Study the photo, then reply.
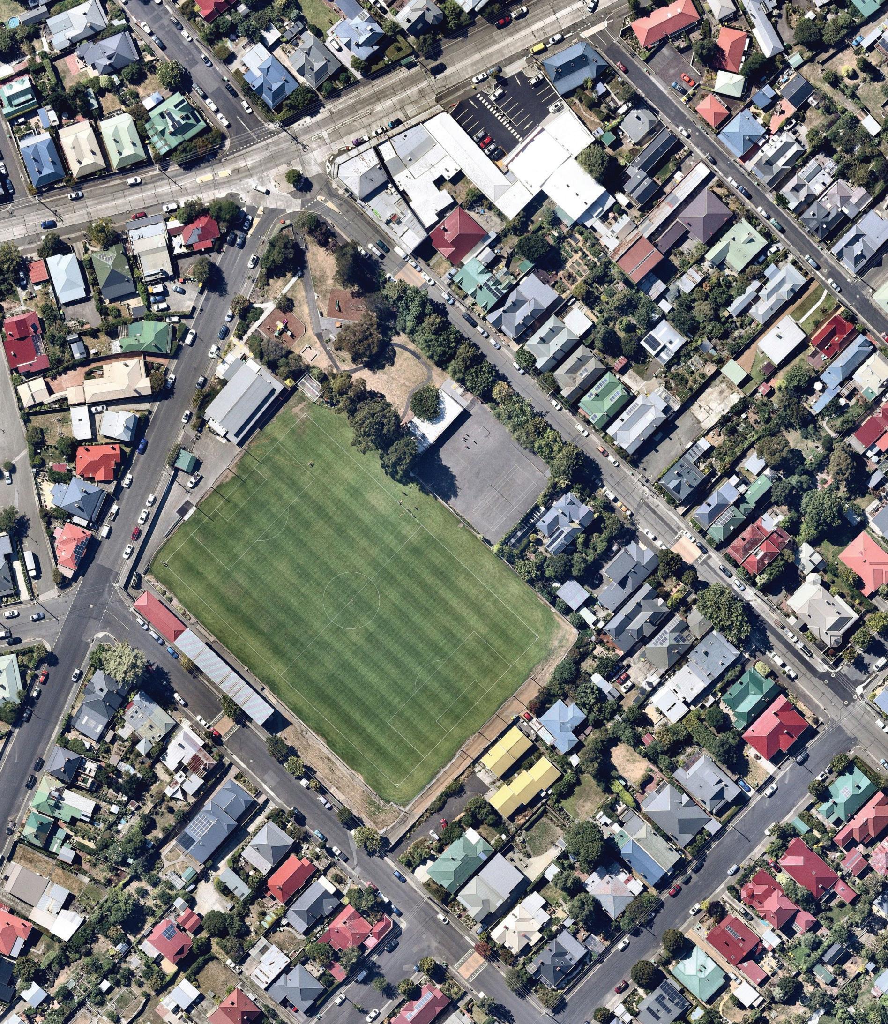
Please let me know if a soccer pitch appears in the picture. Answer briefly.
Yes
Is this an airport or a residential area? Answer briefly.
residential area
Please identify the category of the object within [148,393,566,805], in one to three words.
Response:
soccer field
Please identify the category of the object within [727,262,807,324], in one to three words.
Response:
house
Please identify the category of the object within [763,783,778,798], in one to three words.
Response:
car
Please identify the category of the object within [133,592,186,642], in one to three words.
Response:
building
